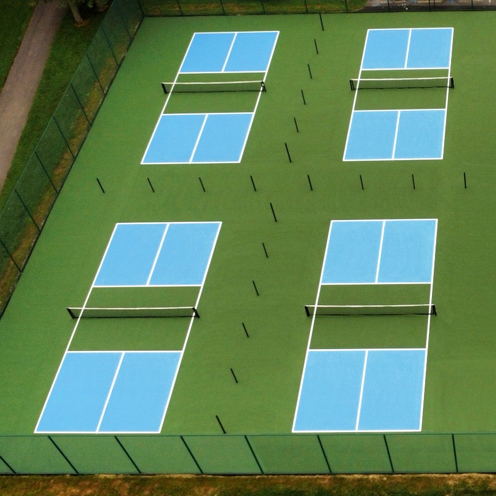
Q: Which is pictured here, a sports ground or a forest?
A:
sports ground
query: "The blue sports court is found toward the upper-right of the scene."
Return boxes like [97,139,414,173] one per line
[344,28,452,160]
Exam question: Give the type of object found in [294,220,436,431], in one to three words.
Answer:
sports court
